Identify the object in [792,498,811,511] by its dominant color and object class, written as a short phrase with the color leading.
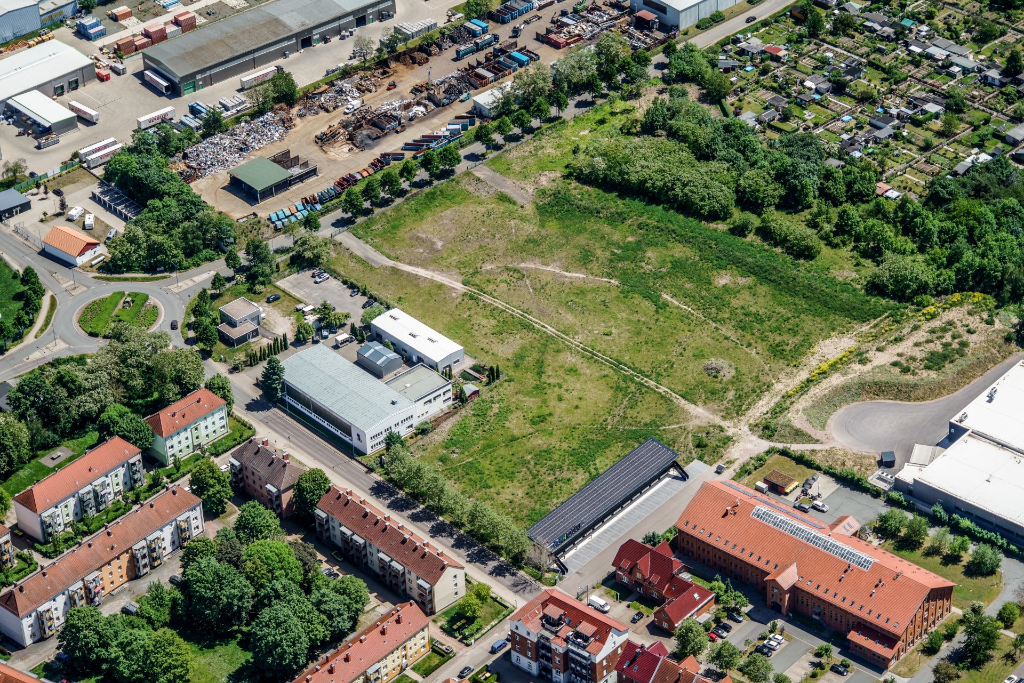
gray vehicle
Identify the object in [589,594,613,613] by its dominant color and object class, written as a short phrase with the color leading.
white vehicle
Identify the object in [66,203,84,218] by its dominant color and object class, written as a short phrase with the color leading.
white camper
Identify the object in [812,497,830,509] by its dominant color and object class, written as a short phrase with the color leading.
white vehicle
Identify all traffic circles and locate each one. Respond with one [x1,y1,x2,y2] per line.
[51,281,184,353]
